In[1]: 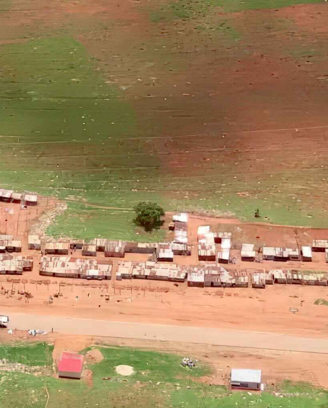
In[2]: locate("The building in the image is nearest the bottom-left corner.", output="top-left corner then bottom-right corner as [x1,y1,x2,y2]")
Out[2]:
[59,353,84,380]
